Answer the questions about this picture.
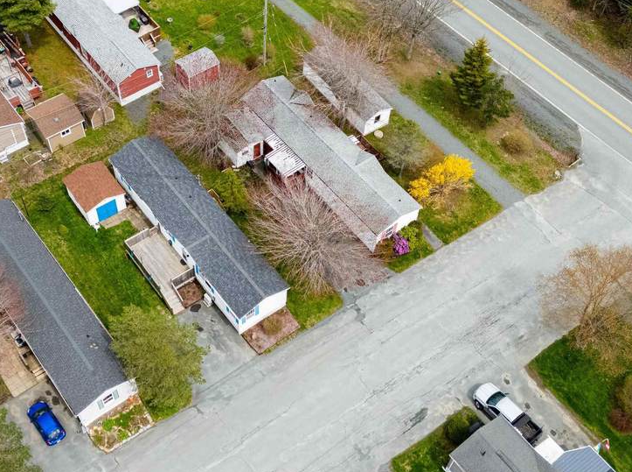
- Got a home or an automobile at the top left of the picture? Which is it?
home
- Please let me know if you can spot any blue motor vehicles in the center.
No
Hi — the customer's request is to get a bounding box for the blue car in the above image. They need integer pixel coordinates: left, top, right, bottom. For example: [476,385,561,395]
[26,399,67,450]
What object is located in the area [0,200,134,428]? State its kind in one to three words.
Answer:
house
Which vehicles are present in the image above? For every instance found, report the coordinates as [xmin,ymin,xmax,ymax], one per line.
[26,399,67,450]
[469,382,548,446]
